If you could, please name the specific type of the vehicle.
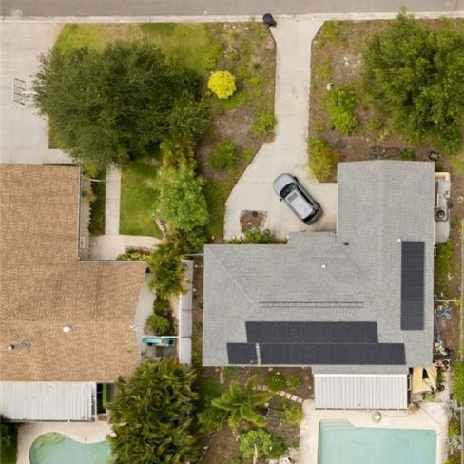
automobile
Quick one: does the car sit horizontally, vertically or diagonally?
diagonally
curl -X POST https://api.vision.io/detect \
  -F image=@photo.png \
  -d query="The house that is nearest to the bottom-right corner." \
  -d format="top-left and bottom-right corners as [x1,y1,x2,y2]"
[202,158,437,410]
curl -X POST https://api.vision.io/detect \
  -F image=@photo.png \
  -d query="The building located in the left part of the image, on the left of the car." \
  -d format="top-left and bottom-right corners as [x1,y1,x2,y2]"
[0,162,153,421]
